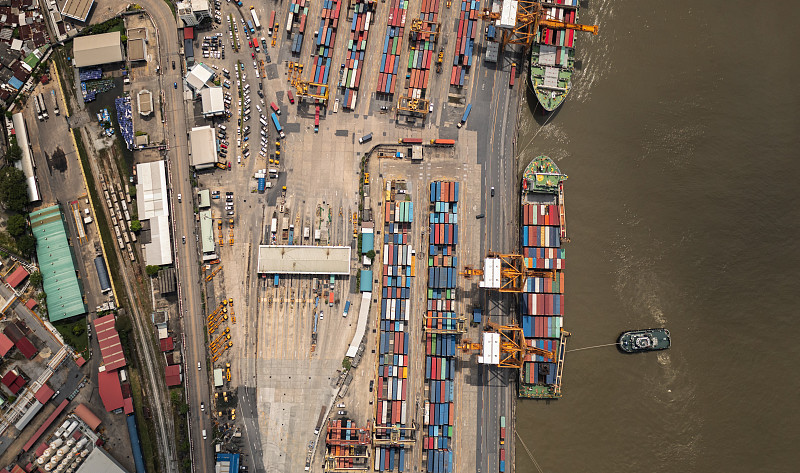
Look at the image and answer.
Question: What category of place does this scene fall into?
port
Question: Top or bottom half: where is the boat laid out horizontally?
bottom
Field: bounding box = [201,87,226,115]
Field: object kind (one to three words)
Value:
shed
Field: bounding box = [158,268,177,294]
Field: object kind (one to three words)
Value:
shed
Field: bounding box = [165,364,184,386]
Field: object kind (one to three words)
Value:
house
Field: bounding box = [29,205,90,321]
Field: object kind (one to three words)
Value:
building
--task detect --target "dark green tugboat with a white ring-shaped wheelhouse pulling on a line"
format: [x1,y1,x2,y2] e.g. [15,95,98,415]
[618,328,670,353]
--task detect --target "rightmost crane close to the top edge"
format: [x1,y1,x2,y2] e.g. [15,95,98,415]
[475,0,598,54]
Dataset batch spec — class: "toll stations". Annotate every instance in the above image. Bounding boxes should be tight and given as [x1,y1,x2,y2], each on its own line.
[257,245,357,276]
